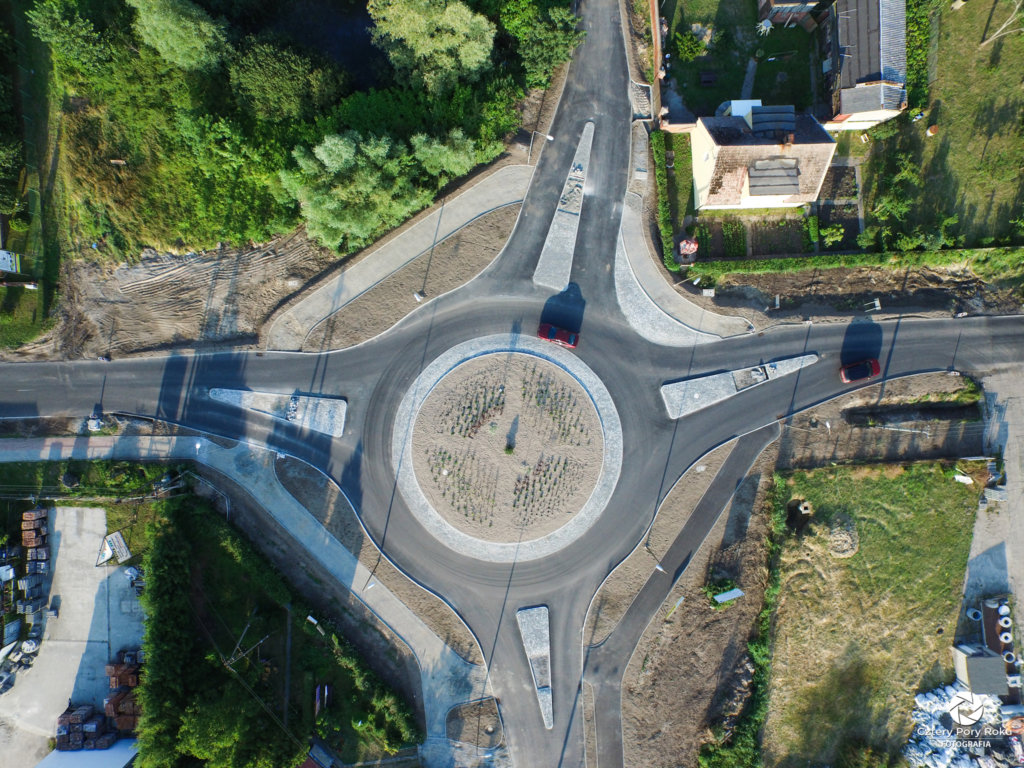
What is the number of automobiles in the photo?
two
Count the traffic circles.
1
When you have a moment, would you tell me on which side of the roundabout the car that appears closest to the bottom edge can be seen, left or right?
right of it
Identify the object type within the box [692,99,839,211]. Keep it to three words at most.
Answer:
house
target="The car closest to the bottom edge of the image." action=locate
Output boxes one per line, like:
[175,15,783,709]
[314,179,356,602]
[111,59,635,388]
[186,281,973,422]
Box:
[839,359,881,384]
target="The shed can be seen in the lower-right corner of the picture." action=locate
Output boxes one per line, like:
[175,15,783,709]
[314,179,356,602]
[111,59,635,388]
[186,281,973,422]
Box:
[952,637,1009,691]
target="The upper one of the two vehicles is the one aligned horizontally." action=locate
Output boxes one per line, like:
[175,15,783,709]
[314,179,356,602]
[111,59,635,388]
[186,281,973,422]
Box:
[537,324,581,348]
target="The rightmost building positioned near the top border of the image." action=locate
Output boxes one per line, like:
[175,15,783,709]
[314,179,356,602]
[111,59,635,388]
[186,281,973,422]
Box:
[821,0,909,135]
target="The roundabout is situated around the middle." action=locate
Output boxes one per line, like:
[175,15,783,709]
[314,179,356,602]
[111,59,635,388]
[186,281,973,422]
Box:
[393,333,623,563]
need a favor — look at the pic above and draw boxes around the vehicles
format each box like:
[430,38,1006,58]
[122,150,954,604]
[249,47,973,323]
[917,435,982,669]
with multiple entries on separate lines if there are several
[537,324,581,348]
[839,359,881,384]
